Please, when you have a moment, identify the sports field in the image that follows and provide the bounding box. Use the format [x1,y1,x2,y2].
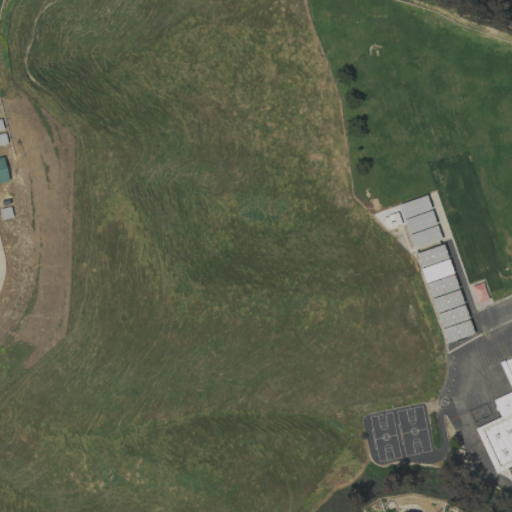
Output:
[306,0,512,302]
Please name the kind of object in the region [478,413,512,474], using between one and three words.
building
